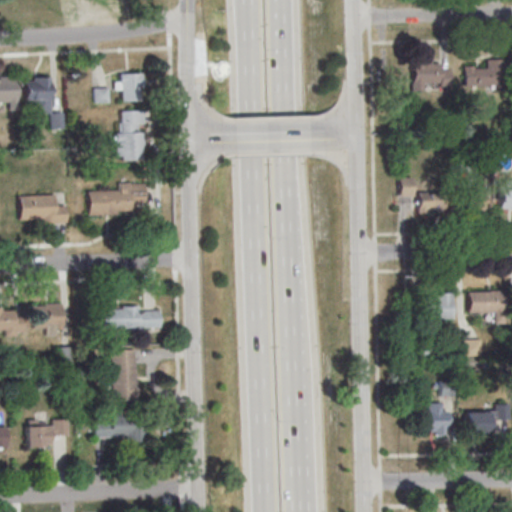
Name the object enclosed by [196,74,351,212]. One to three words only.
overpass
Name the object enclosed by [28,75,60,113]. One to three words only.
house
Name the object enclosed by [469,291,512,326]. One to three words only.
house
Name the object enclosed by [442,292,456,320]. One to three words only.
building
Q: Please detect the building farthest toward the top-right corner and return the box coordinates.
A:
[466,59,504,92]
